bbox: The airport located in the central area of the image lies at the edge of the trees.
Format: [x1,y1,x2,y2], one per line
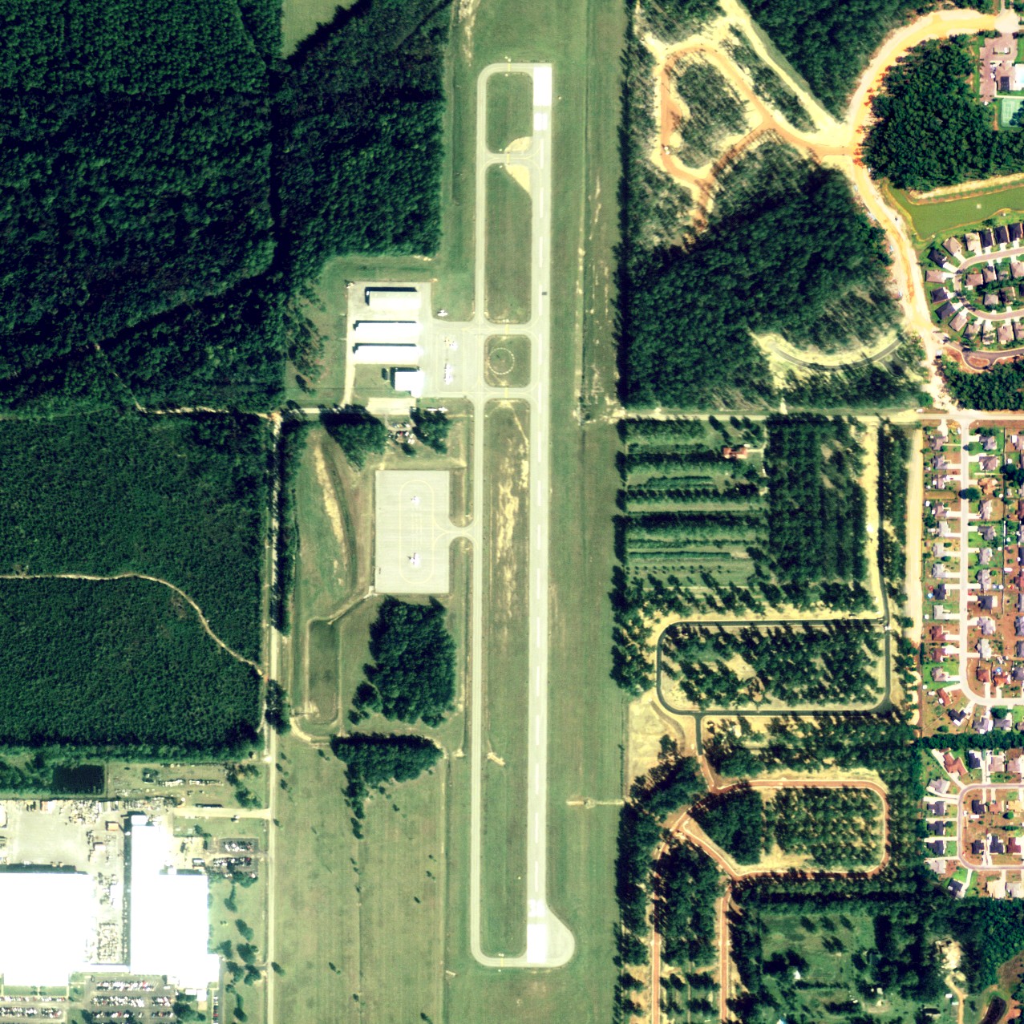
[348,63,575,967]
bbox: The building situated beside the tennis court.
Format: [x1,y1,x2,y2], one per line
[999,64,1015,90]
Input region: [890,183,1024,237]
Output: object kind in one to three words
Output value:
pond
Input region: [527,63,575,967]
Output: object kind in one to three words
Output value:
runway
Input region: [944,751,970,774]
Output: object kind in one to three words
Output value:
house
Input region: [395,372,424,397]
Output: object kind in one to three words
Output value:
hangar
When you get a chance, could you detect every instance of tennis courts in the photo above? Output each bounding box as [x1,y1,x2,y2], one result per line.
[1002,98,1024,127]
